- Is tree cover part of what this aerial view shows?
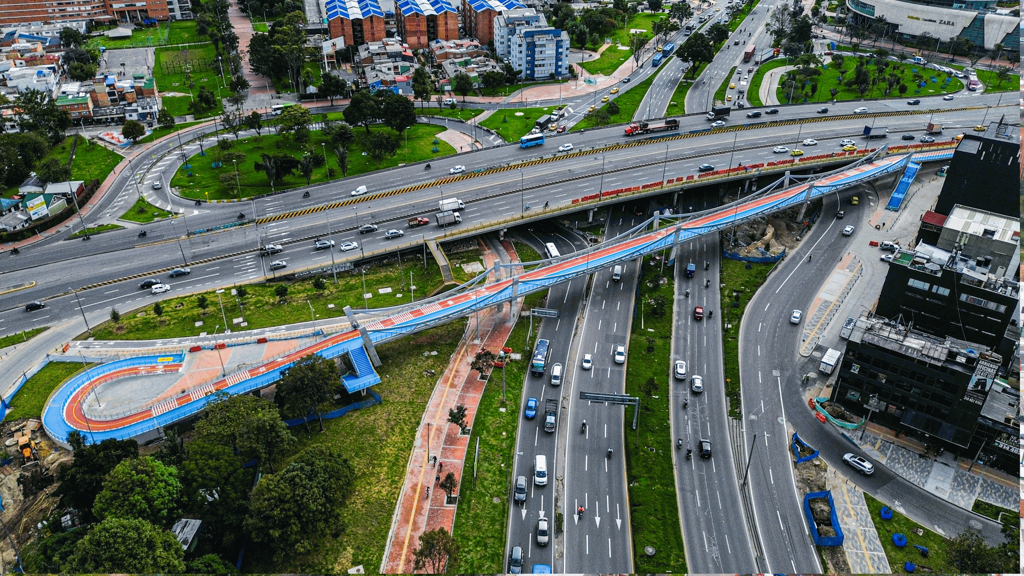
Yes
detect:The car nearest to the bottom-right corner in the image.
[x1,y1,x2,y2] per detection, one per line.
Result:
[842,452,877,474]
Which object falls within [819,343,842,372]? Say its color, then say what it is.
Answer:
white truck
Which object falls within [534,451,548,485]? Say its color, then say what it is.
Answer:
white vehicle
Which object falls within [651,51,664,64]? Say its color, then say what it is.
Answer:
blue vehicle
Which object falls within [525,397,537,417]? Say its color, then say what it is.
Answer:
blue vehicle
